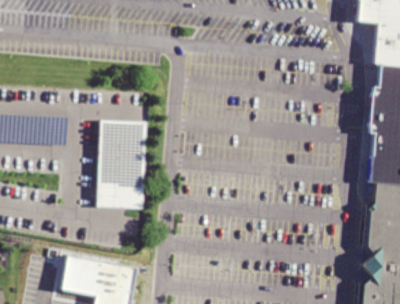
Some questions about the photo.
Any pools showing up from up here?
No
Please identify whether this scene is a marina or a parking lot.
parking lot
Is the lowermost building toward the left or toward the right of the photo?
left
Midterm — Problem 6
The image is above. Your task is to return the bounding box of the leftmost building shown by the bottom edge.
[62,256,137,304]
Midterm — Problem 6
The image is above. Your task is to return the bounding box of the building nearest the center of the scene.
[98,122,150,210]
